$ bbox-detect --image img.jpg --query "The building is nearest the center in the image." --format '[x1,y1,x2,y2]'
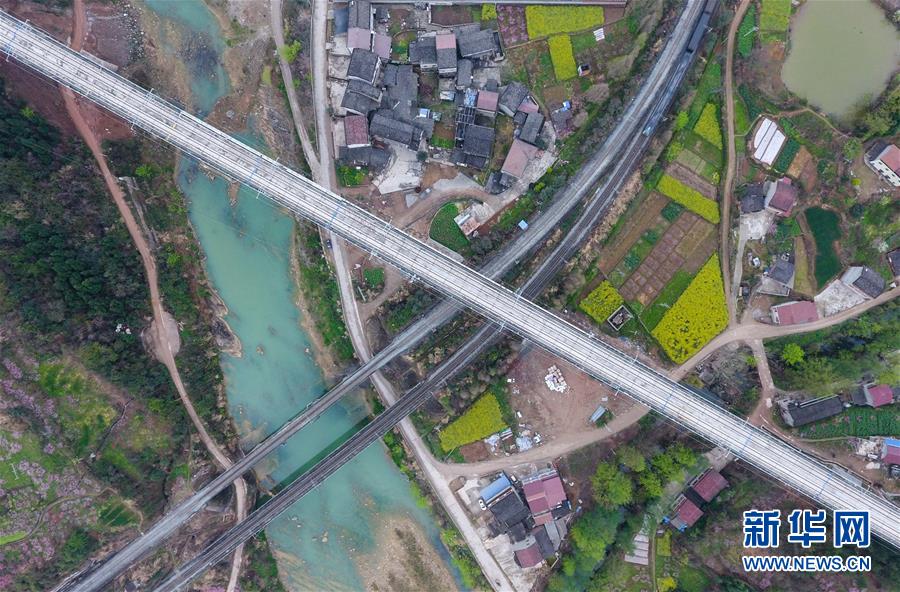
[454,206,481,235]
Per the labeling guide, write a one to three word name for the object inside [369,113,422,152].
house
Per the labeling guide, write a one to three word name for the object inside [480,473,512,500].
building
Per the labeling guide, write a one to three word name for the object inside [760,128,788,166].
greenhouse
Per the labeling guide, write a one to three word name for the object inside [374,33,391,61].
shed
